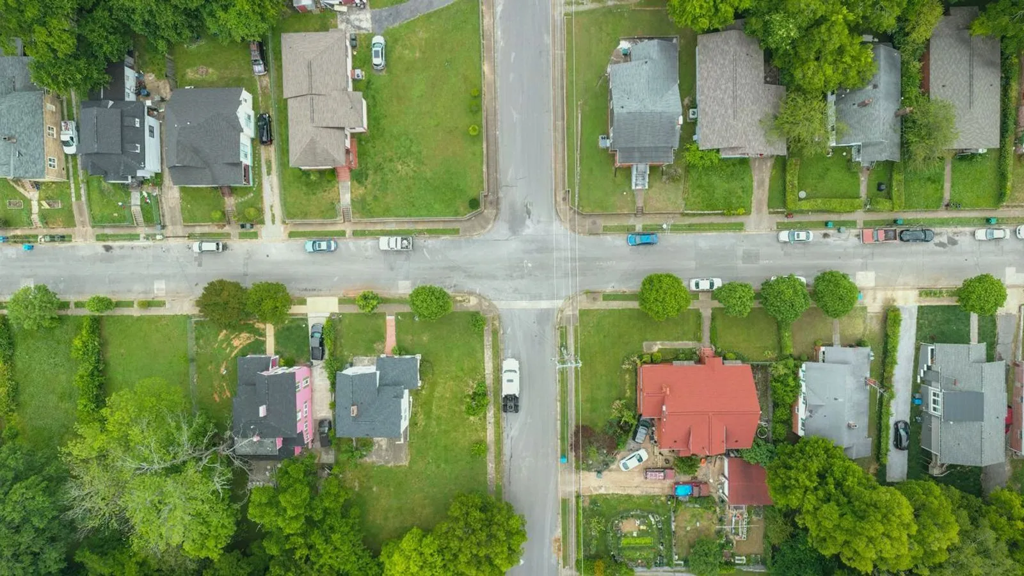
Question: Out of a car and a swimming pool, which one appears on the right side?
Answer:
car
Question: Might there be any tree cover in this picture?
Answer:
Yes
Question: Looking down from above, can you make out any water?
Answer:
No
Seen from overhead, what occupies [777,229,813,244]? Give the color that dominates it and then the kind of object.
white car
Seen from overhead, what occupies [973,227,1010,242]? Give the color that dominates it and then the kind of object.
white car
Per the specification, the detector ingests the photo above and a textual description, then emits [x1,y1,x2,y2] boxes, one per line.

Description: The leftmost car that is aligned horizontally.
[194,239,227,254]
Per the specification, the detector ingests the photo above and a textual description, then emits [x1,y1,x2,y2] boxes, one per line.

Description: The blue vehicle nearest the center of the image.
[626,232,658,247]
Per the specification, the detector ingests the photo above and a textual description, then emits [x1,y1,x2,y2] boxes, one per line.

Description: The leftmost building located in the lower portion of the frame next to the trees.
[233,355,311,456]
